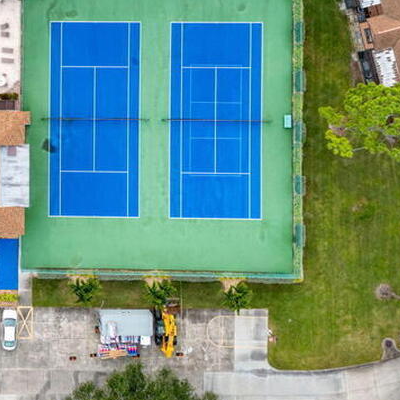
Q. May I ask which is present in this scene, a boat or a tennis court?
tennis court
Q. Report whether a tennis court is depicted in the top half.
Yes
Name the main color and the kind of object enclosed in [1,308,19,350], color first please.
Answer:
white car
